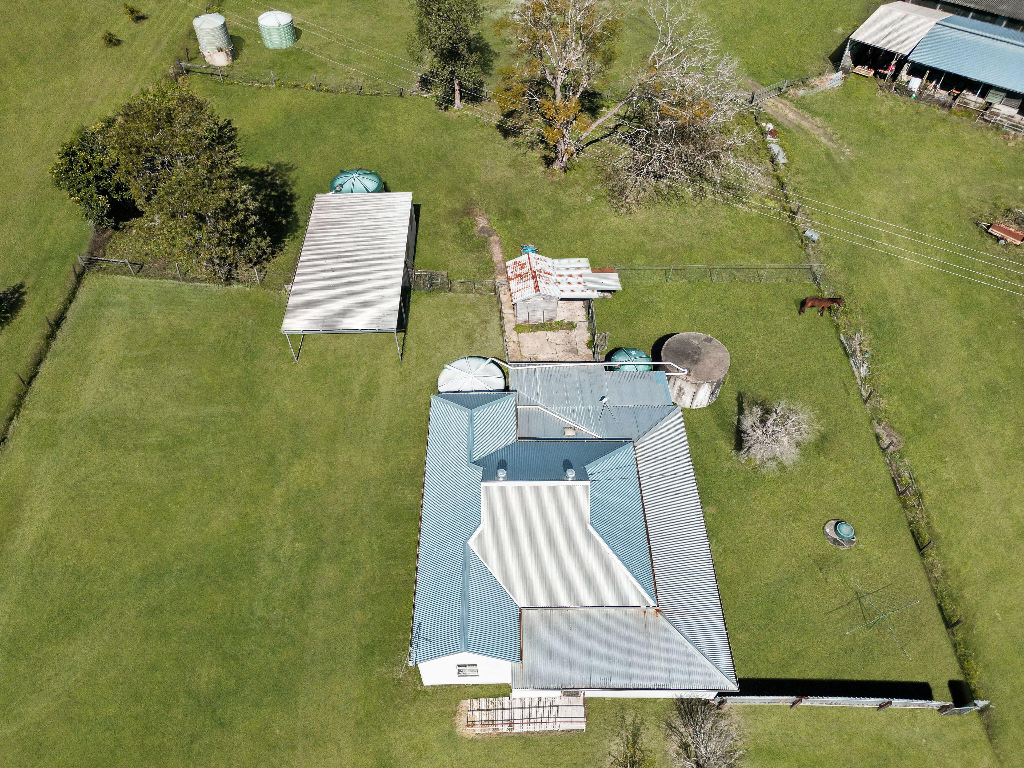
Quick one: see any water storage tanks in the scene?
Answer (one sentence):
Yes, a water storage tank appears in the view.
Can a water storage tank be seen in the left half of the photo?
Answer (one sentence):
Yes, looking in the left half of the photo, one can make out a water storage tank.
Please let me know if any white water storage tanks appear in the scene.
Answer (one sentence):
Yes, there is a white water storage tank in the image.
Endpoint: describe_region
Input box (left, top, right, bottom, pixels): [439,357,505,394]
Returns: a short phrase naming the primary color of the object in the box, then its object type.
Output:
white water tank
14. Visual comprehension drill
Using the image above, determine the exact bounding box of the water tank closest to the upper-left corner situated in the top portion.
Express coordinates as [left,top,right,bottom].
[194,13,240,65]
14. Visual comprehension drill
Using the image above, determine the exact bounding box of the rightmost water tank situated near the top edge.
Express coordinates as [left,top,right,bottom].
[258,13,299,49]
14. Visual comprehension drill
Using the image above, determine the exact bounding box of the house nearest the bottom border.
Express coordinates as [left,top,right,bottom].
[407,358,740,698]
